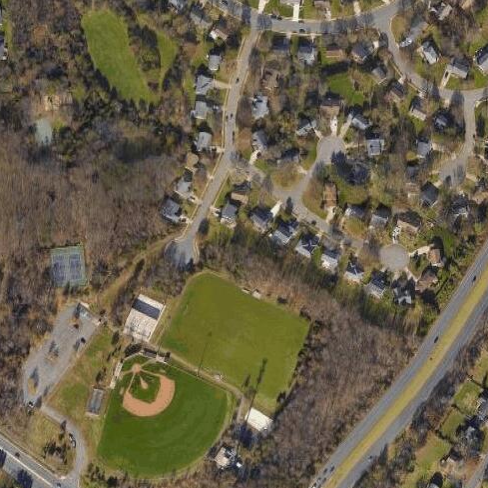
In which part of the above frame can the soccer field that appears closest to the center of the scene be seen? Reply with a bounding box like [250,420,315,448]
[162,269,310,413]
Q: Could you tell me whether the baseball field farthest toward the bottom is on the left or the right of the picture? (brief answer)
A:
left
